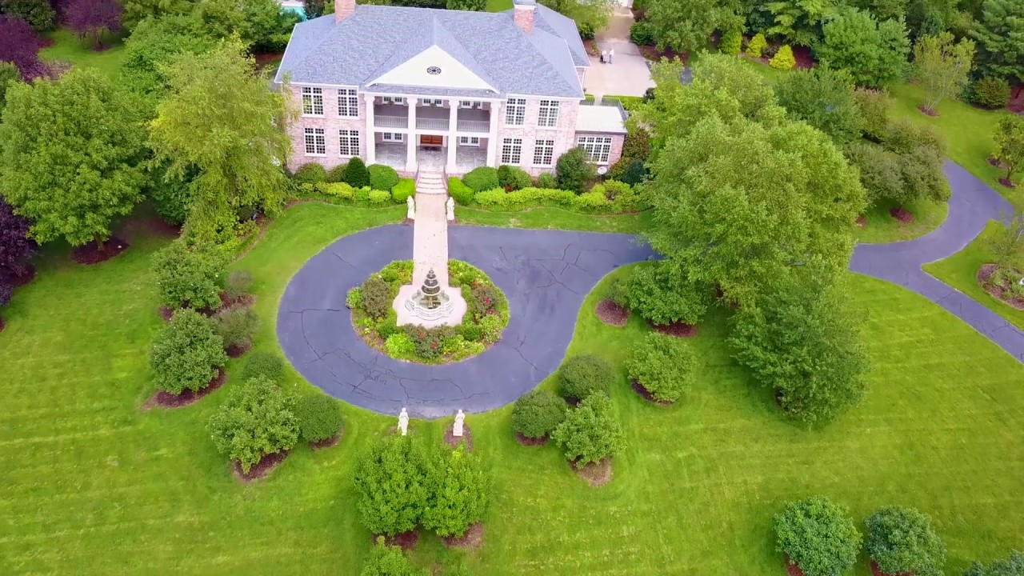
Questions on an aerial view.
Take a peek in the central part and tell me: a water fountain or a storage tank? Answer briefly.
water fountain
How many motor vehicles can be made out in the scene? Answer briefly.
zero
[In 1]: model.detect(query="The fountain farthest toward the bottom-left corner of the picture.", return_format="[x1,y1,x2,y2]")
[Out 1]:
[404,267,456,323]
